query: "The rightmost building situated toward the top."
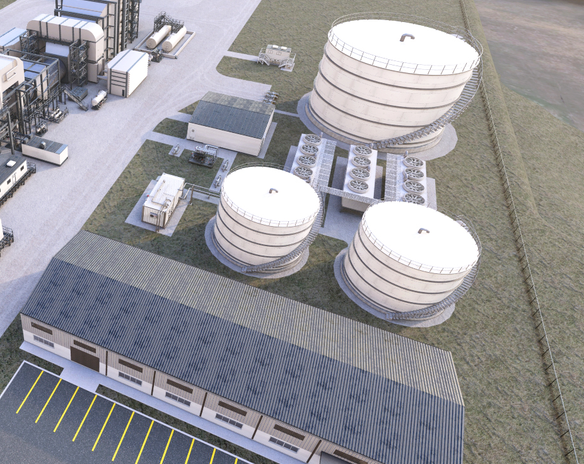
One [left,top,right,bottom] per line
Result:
[265,47,291,65]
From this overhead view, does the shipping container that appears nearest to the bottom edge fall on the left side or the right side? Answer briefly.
left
